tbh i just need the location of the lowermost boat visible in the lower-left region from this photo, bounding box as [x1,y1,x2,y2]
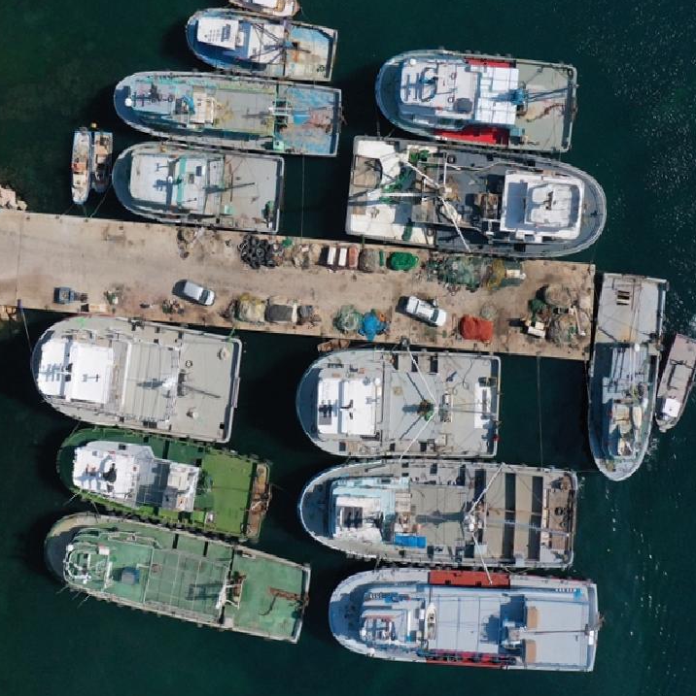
[43,513,314,644]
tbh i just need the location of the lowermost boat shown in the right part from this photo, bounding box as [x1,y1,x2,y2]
[327,563,599,672]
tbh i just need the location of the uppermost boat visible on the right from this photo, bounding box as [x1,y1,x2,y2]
[374,50,576,155]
